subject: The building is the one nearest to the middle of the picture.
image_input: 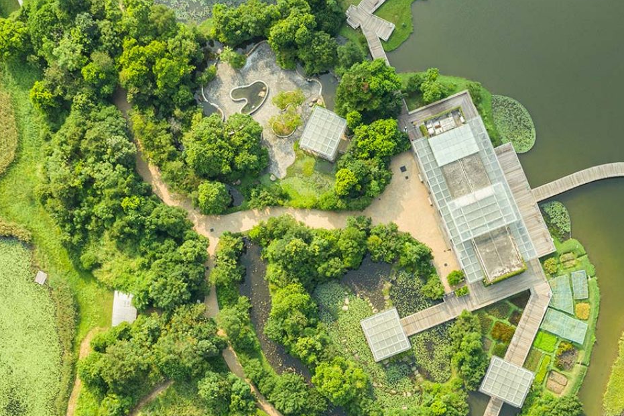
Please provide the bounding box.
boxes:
[300,106,346,162]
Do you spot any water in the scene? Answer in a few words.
Yes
